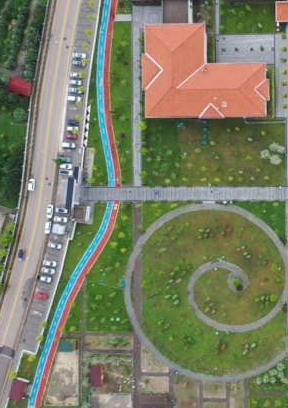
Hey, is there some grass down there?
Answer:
Yes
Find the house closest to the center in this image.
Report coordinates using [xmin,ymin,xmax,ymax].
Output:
[67,149,94,220]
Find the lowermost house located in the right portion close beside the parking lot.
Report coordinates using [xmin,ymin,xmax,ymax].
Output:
[142,24,269,119]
